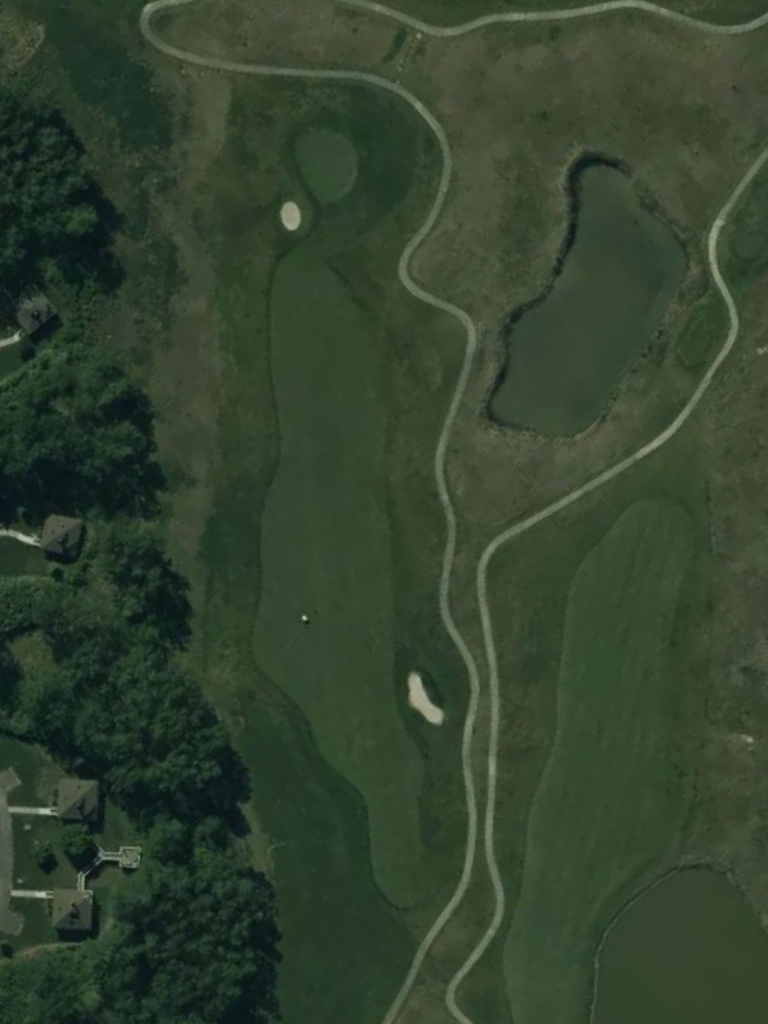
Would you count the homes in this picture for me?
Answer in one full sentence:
The photo contains 4 homes.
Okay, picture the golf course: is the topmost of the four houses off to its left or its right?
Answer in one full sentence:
To the left of the golf course is where the topmost of the four houses appears.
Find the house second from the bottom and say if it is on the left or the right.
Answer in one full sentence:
You can find the house second from the bottom on the left side of the picture.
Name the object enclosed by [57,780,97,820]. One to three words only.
house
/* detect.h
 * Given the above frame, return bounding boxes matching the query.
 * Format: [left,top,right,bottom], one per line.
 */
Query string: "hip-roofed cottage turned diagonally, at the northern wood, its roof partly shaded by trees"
[6,284,56,334]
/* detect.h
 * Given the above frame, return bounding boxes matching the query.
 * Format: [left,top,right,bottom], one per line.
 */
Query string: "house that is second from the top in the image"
[40,513,81,553]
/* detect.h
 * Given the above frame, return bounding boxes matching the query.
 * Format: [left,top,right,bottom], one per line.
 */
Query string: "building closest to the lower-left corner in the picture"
[49,889,93,930]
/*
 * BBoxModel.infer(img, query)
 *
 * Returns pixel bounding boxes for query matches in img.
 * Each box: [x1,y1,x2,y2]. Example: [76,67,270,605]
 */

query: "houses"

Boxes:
[40,513,81,553]
[6,284,56,334]
[57,780,97,820]
[49,889,93,930]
